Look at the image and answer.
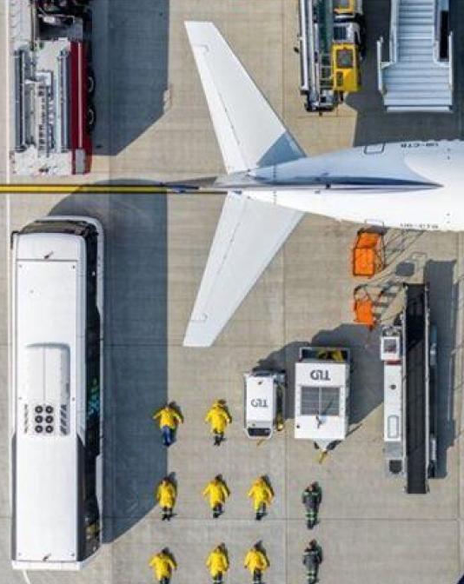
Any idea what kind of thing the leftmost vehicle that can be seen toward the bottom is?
bus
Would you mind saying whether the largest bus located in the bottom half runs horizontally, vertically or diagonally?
vertically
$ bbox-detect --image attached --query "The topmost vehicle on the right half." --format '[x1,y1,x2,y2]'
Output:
[294,0,369,119]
